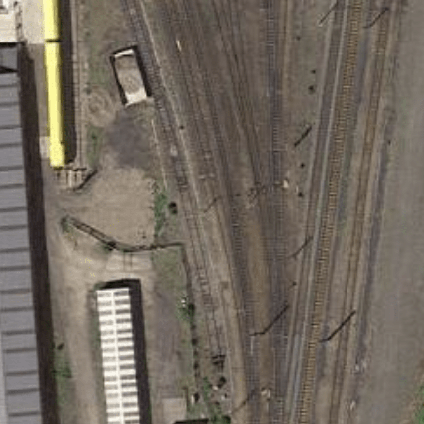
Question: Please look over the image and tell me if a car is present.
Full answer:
No, the scene contains no car.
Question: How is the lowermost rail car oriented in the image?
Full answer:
I'd say the lowermost rail car is aligned up and down in the picture.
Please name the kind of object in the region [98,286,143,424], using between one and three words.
shed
